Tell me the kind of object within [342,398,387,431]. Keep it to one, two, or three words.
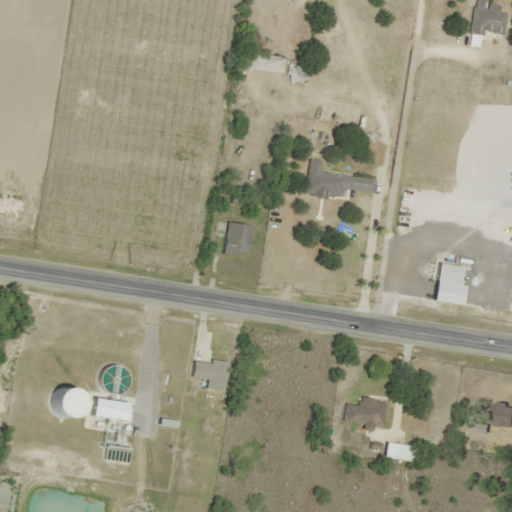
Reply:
house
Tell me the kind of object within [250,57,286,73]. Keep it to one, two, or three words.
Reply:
house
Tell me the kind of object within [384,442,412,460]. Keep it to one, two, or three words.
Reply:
shed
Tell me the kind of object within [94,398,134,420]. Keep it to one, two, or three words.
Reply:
building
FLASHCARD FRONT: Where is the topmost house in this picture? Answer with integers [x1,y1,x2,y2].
[467,0,506,38]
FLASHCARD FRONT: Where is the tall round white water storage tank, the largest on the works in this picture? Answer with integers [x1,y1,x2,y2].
[50,386,92,418]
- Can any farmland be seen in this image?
Yes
